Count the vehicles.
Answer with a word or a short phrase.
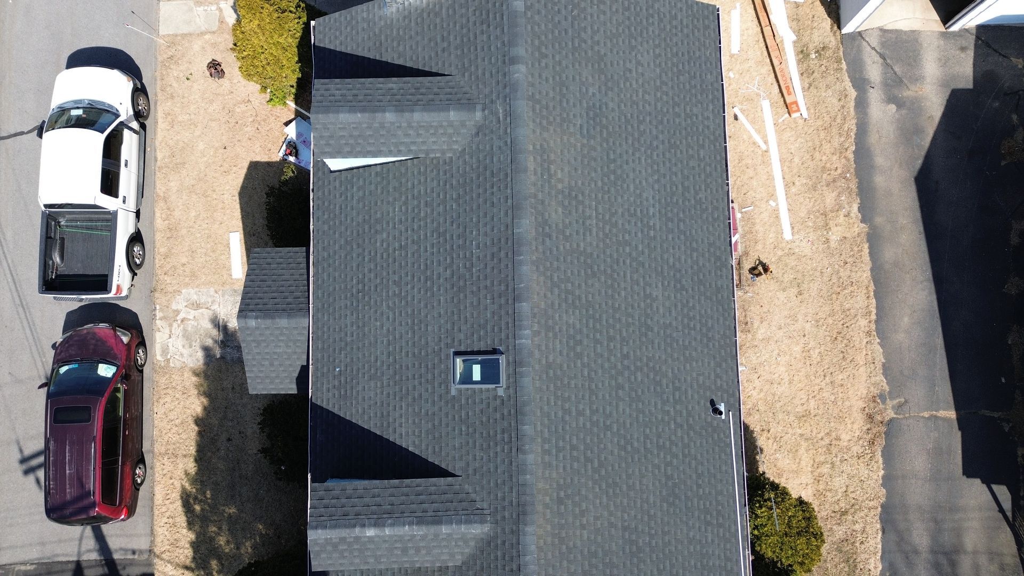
2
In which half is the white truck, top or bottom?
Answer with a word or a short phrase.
top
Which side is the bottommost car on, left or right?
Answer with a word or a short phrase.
left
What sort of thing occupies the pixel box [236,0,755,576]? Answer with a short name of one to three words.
house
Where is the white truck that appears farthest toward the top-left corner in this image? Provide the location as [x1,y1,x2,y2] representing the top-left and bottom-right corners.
[30,64,150,307]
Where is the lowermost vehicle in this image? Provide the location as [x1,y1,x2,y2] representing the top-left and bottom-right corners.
[38,322,149,527]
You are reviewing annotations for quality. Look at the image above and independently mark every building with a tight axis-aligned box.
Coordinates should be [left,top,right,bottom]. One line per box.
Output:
[236,0,755,576]
[839,0,1024,33]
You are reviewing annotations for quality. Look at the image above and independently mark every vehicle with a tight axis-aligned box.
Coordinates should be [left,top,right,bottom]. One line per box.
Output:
[30,64,150,307]
[38,322,149,527]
